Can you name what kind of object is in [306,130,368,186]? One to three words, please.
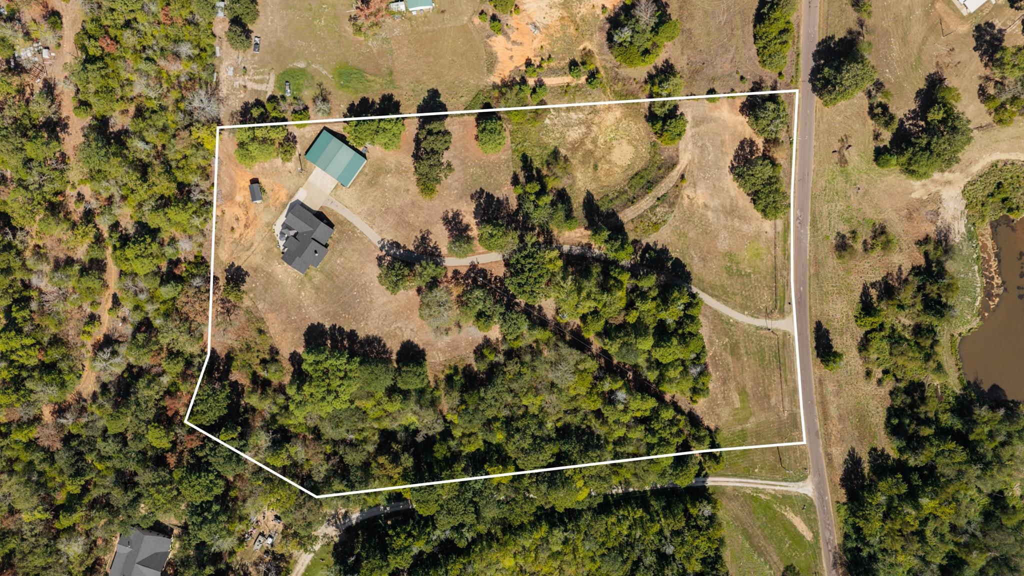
barn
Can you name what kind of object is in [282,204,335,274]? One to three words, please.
house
